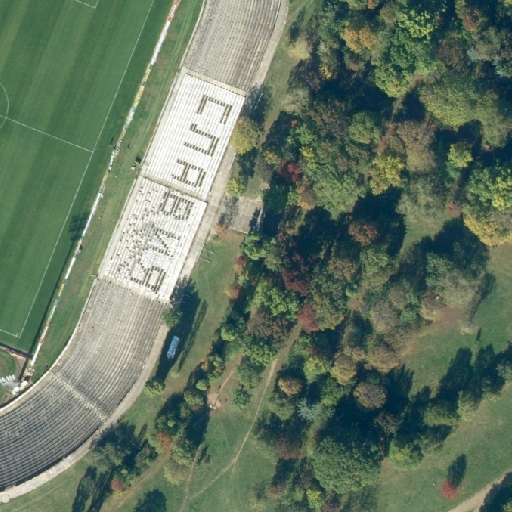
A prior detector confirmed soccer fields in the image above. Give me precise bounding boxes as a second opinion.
[0,0,176,354]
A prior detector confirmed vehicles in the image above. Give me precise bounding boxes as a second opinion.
[166,336,179,358]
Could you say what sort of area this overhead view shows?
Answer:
sports ground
